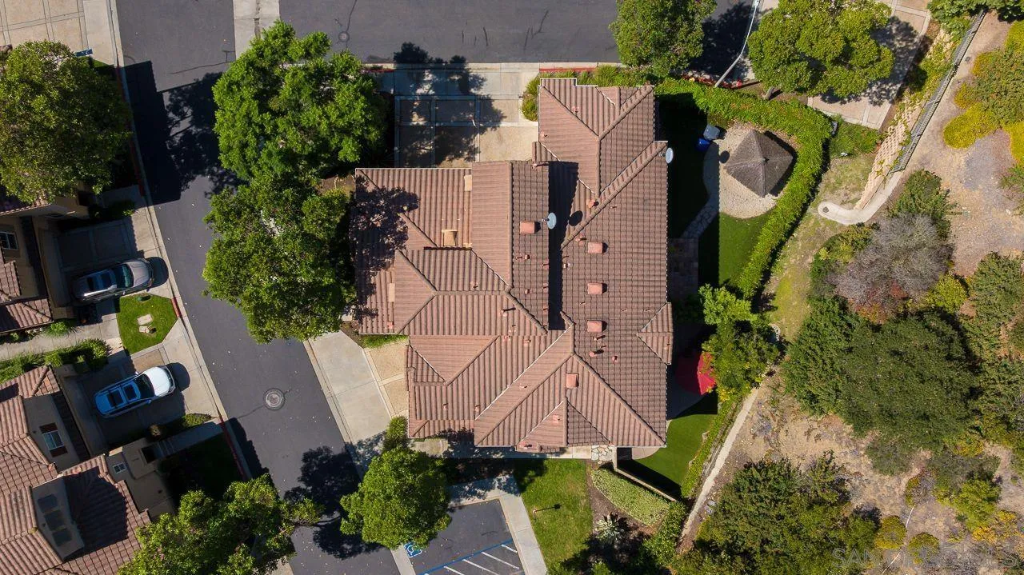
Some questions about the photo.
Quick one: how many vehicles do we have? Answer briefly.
2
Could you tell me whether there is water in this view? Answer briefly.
No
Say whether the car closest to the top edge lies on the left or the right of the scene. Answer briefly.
left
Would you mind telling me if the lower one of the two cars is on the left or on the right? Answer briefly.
left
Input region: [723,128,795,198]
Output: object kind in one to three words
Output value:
gazebo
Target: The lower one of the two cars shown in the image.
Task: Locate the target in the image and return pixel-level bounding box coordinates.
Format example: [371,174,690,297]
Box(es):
[84,366,174,421]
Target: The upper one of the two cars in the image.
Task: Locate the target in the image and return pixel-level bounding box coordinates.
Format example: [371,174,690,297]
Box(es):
[62,256,153,304]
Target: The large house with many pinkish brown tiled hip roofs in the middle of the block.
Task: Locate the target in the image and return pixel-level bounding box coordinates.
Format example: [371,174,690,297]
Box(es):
[355,77,679,454]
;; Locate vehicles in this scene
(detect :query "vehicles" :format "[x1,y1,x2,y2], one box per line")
[62,256,153,304]
[84,366,174,421]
